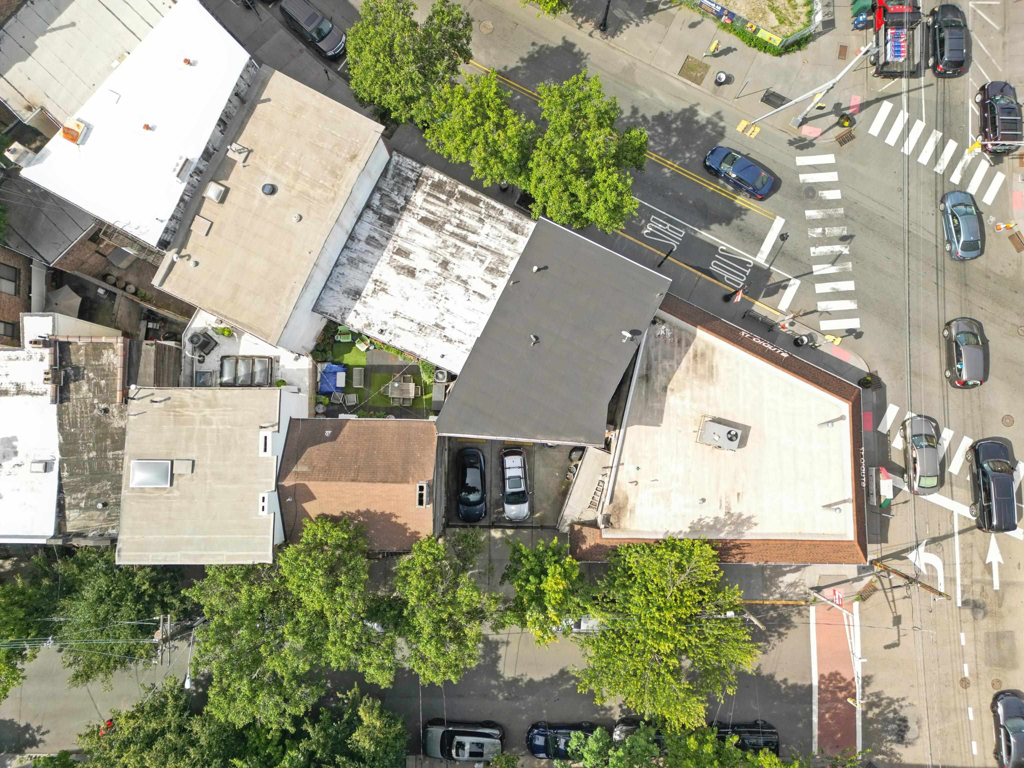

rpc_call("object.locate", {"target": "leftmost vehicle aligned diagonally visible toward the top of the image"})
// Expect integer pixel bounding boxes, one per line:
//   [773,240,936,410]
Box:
[273,0,346,56]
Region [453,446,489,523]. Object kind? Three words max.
car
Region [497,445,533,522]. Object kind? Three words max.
car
